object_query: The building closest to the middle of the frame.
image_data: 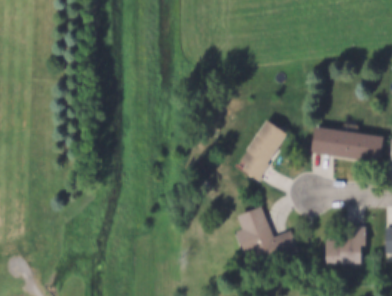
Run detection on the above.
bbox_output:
[237,120,288,179]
